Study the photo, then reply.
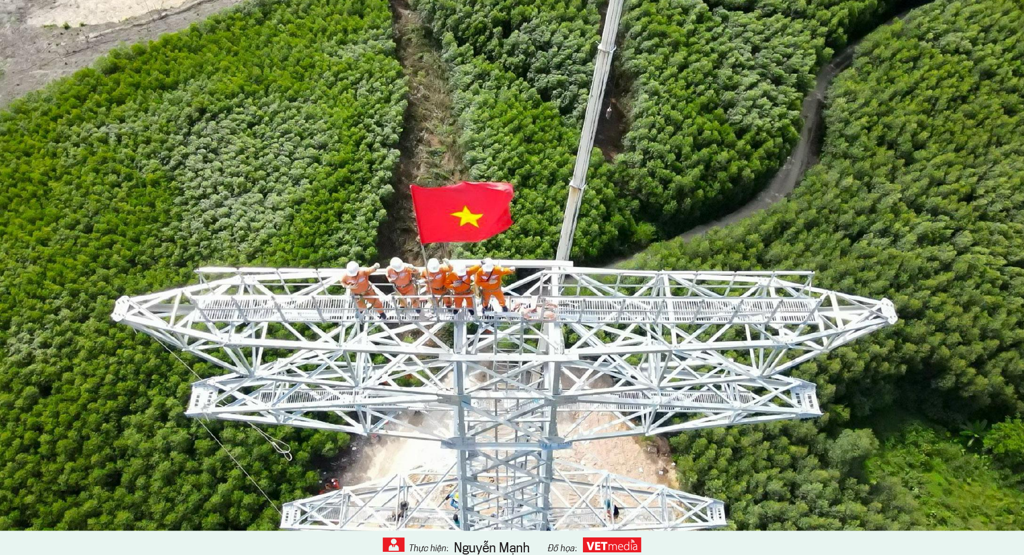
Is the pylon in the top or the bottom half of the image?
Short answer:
bottom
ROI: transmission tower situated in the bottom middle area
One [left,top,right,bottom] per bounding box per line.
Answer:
[112,258,896,555]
